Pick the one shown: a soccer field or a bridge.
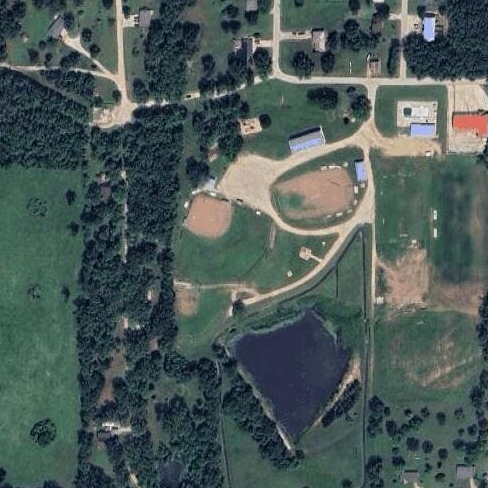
soccer field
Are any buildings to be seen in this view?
Yes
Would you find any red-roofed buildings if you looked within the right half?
Yes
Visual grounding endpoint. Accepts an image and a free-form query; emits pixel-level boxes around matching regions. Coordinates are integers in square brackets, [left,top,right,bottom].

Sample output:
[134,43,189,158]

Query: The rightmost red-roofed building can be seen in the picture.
[452,116,488,139]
